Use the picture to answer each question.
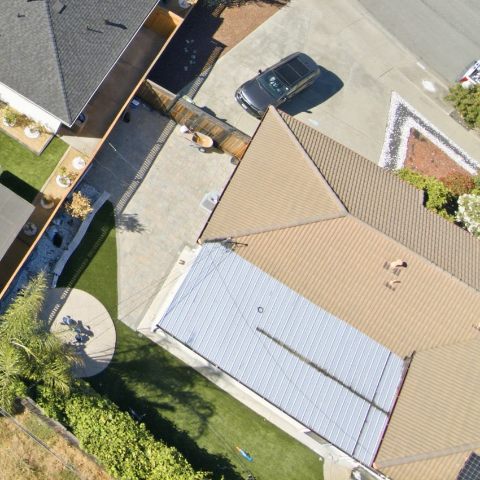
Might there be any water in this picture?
No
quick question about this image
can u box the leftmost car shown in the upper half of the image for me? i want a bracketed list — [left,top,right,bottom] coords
[228,52,328,114]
